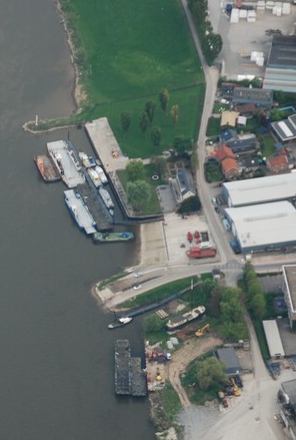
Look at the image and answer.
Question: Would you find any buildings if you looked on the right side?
Yes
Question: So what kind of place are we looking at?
port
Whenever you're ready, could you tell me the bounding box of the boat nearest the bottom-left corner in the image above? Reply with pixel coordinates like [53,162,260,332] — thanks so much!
[107,310,134,327]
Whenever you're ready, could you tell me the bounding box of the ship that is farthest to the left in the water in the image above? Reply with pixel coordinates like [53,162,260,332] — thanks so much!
[35,154,58,181]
